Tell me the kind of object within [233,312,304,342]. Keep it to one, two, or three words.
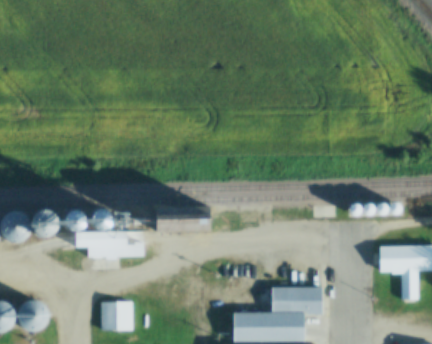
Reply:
shed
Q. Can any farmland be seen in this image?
Yes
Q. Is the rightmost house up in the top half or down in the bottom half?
bottom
